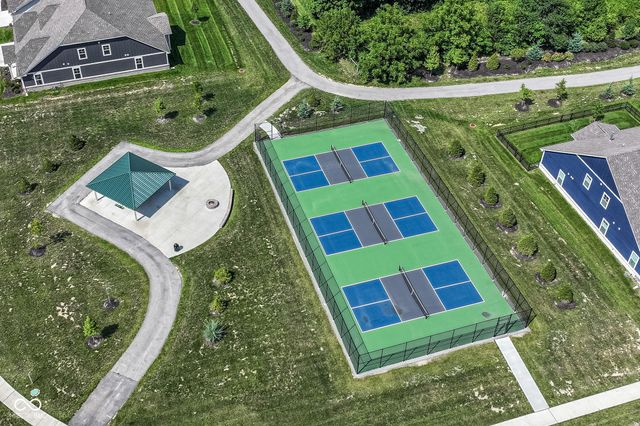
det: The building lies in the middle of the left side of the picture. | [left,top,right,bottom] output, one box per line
[86,152,176,221]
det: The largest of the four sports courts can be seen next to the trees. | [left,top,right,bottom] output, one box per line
[252,117,533,377]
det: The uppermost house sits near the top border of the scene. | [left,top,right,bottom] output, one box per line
[2,0,175,90]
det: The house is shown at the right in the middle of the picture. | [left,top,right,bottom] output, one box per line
[540,117,640,284]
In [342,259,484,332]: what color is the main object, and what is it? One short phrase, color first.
blue sports court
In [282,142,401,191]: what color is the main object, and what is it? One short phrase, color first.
blue sports court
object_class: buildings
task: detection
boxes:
[2,0,175,90]
[86,152,176,221]
[540,117,640,284]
